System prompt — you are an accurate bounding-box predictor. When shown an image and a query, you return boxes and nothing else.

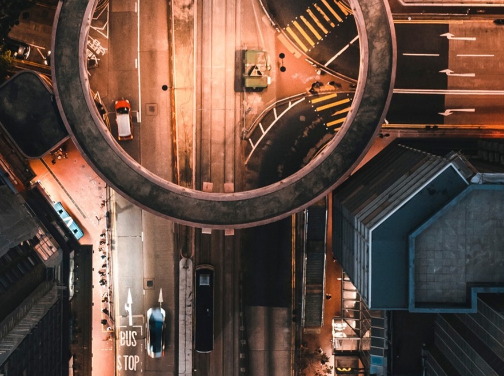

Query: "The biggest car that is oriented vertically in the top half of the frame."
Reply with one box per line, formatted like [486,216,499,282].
[114,97,132,141]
